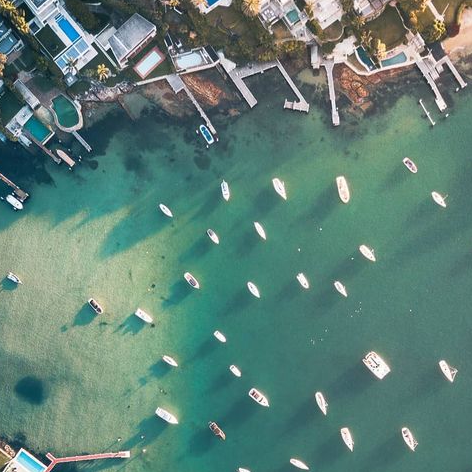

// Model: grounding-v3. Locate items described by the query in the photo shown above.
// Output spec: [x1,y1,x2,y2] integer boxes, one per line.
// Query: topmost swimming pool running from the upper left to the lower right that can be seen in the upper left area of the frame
[48,4,85,49]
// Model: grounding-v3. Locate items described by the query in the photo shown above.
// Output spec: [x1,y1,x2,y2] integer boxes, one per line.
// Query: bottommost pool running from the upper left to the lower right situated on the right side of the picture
[355,45,378,73]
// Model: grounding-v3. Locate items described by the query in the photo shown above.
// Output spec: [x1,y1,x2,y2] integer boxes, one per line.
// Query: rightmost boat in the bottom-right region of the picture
[439,359,456,382]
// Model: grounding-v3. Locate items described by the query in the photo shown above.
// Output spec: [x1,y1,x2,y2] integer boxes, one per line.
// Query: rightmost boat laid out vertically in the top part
[336,173,349,202]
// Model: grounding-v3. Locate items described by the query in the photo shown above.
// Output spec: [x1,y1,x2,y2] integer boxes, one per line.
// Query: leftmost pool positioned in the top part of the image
[24,113,55,145]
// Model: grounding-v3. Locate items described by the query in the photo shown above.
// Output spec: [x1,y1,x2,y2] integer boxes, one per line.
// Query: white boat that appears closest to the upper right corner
[402,156,417,172]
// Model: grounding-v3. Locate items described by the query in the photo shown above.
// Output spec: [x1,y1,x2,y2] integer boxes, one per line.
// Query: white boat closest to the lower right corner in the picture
[402,427,417,452]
